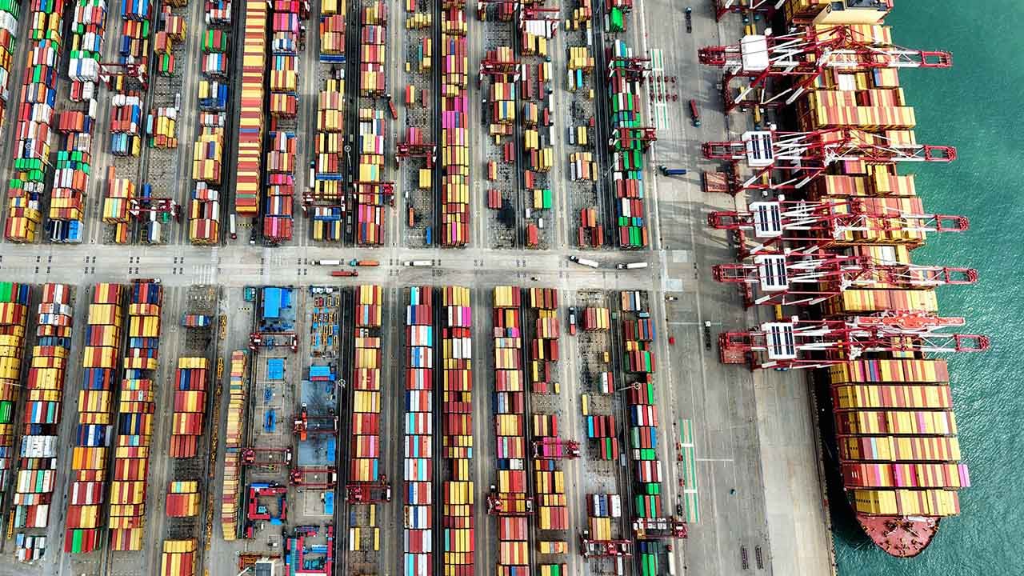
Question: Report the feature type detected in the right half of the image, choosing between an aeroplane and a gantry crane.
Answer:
gantry crane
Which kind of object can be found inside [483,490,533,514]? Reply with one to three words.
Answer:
container crane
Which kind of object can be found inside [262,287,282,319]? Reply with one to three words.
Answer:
shed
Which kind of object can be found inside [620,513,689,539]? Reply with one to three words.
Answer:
container crane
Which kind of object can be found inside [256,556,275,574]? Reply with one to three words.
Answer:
shed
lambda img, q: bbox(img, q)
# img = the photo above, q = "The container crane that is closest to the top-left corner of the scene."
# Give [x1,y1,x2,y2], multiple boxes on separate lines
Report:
[98,63,162,96]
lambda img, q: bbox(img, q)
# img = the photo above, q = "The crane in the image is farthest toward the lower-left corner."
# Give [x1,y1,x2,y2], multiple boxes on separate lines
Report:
[241,446,300,467]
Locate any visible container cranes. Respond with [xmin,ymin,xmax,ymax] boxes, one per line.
[525,438,580,460]
[713,313,994,375]
[703,192,975,264]
[570,531,632,558]
[697,118,963,202]
[601,127,656,158]
[303,194,351,222]
[289,466,343,489]
[620,513,689,539]
[718,0,791,32]
[393,143,436,173]
[249,332,305,355]
[241,446,300,467]
[707,245,983,314]
[268,0,314,25]
[477,61,521,94]
[513,9,560,44]
[483,490,533,514]
[353,182,400,210]
[345,480,392,504]
[293,414,345,436]
[599,59,652,92]
[130,198,192,226]
[690,17,948,116]
[98,63,162,96]
[474,0,520,28]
